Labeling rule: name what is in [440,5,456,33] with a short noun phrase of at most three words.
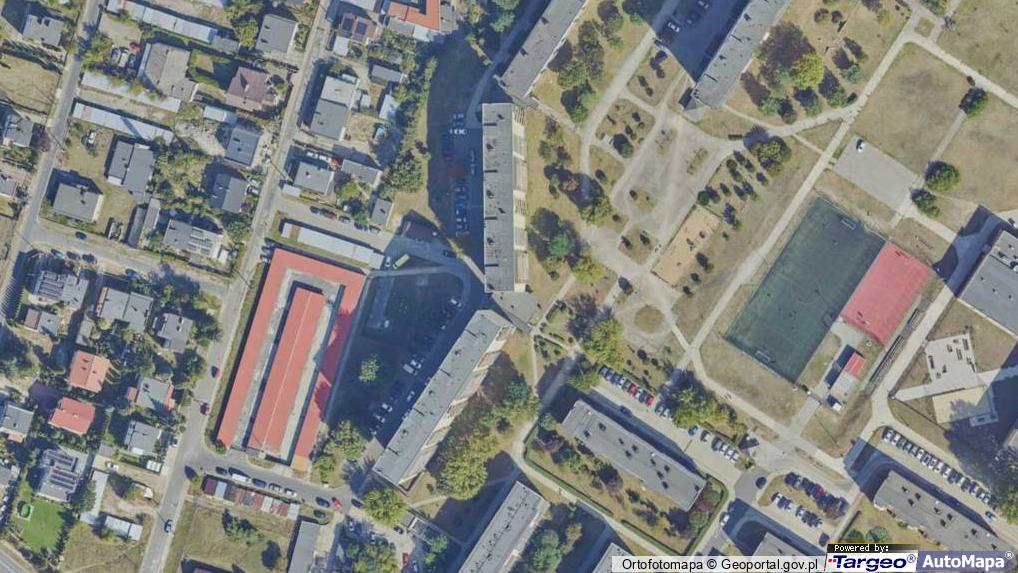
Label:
shed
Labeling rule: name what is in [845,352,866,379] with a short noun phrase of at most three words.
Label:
building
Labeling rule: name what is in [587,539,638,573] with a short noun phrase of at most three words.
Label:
building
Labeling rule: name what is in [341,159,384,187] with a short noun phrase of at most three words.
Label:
house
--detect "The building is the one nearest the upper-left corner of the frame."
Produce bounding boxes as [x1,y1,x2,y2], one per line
[22,15,68,46]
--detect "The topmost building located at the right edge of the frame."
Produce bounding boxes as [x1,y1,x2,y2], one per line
[957,231,1018,336]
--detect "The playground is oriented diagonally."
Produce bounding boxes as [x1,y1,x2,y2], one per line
[651,205,721,287]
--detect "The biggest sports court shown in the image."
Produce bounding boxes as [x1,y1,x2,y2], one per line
[840,242,931,344]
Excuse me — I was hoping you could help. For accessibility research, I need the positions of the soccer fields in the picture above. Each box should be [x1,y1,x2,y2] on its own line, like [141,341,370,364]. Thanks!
[725,195,890,385]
